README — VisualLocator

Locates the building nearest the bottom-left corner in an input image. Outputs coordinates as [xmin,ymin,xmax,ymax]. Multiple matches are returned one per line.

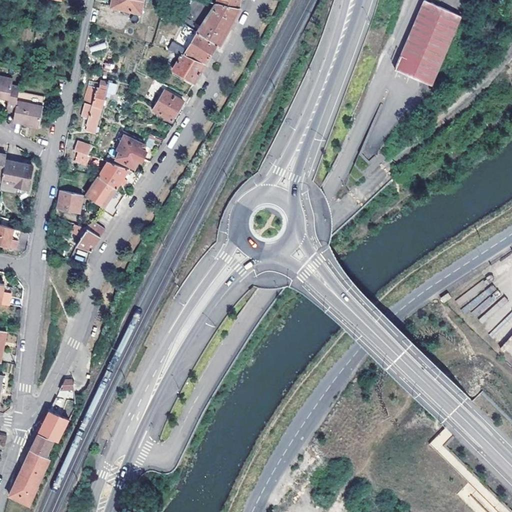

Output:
[7,452,50,509]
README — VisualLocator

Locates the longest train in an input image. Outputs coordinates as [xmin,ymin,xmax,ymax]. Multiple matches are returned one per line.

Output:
[52,308,140,488]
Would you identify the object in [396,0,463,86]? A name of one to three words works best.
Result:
building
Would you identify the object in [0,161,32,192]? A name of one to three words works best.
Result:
house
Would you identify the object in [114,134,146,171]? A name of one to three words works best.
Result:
house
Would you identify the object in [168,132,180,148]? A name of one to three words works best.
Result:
vehicle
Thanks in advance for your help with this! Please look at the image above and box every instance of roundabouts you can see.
[203,149,332,288]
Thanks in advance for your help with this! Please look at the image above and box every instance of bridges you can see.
[292,247,512,488]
